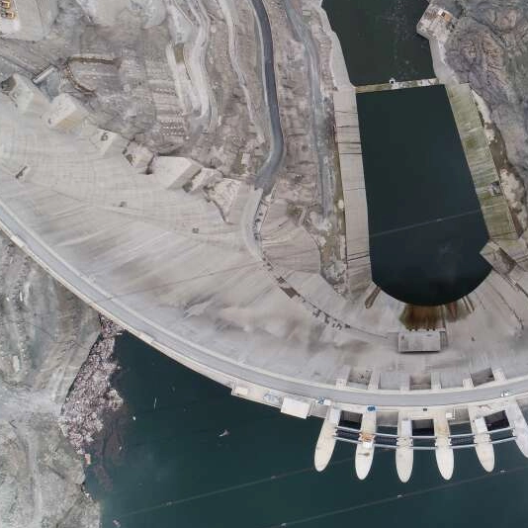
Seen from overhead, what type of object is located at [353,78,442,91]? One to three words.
dam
